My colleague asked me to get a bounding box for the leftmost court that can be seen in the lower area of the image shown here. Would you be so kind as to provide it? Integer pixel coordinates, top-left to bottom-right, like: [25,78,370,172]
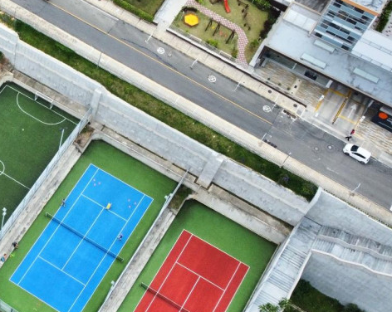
[0,143,179,312]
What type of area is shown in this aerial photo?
sports ground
